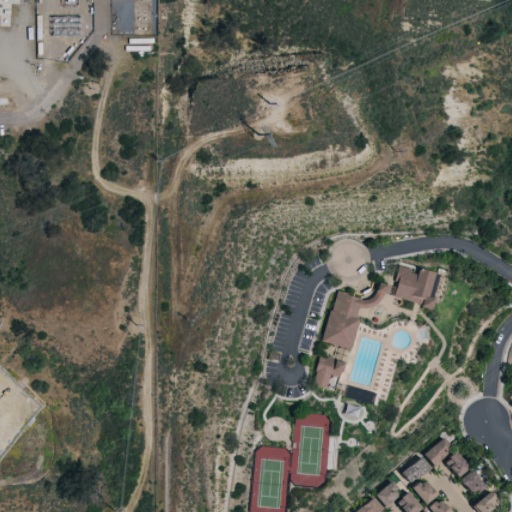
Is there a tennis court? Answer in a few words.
Yes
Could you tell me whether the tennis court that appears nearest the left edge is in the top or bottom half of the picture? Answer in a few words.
bottom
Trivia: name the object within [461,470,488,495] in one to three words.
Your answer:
house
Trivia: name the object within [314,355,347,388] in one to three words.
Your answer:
building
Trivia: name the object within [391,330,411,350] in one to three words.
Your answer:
swimming pool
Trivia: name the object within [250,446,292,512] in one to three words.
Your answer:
tennis court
